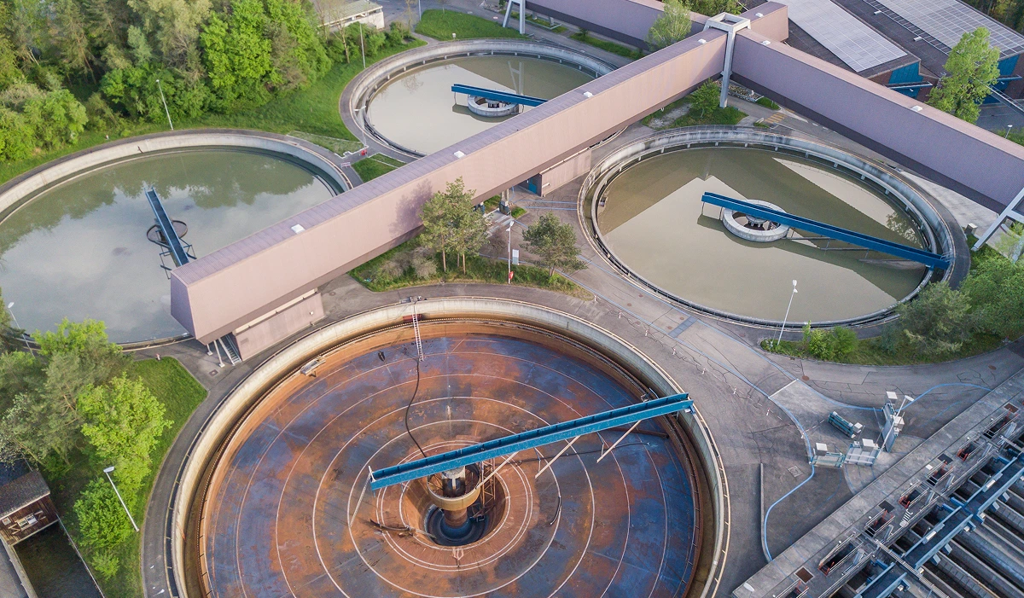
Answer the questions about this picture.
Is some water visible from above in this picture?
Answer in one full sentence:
Yes, some water is visible.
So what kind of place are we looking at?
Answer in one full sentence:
This image shows an industrial area.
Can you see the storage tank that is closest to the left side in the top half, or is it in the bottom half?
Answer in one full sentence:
You can find the storage tank that is closest to the left side in the top half.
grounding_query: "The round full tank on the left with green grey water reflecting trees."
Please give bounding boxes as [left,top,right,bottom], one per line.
[0,131,352,225]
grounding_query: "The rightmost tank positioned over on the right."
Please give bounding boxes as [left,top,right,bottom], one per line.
[576,132,952,341]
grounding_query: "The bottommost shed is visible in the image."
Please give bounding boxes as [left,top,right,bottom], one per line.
[0,473,62,557]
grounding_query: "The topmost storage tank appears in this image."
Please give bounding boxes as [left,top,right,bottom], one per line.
[352,42,652,164]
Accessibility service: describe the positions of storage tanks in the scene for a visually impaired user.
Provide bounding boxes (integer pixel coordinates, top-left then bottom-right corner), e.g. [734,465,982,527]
[576,132,952,341]
[0,131,352,225]
[352,42,652,164]
[170,302,728,598]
